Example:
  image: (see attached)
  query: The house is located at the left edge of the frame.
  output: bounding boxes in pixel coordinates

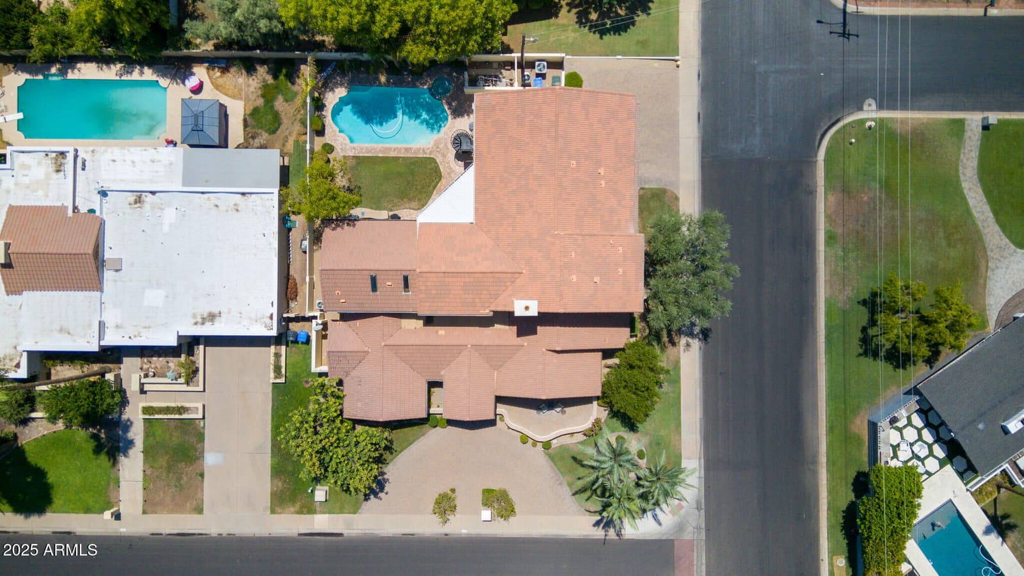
[0,147,287,377]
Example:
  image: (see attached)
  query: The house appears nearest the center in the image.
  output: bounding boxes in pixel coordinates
[319,86,645,423]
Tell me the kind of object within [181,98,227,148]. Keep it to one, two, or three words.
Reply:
gazebo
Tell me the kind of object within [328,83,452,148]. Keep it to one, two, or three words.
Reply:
swimming pool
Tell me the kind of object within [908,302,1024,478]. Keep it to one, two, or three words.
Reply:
house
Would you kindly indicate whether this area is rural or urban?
urban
